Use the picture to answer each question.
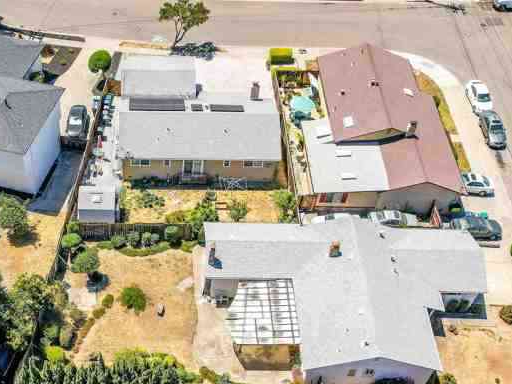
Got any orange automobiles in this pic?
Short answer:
No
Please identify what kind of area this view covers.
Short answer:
residential area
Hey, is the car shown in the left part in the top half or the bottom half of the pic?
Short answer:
top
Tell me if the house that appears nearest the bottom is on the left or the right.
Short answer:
right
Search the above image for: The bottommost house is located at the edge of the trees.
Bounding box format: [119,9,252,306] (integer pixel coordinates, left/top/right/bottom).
[204,213,488,384]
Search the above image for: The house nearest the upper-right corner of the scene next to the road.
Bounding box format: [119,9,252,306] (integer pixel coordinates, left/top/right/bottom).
[299,43,466,213]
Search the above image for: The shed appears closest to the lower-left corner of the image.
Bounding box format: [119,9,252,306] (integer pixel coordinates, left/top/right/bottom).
[77,186,118,224]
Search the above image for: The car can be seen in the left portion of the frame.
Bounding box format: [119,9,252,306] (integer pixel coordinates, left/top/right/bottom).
[62,100,90,140]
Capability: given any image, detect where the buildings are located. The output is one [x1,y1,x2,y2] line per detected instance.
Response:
[299,43,466,213]
[77,186,118,224]
[119,55,282,194]
[0,33,65,194]
[204,213,488,384]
